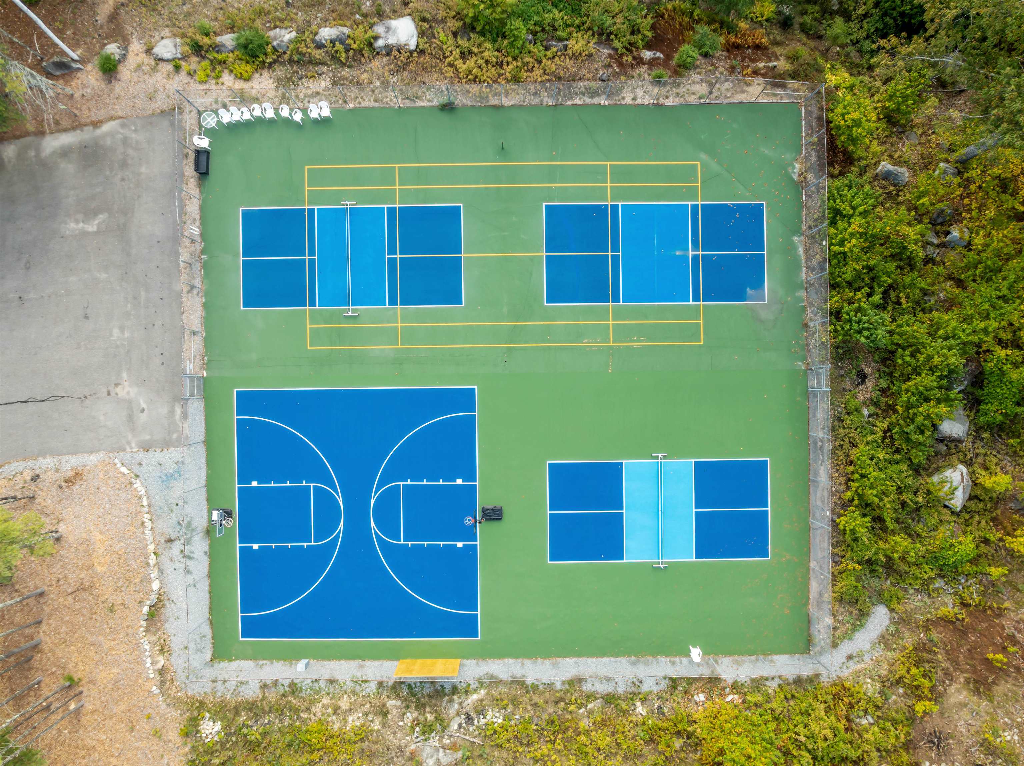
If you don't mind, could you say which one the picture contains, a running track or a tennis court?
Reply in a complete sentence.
It is a tennis court that can be seen here.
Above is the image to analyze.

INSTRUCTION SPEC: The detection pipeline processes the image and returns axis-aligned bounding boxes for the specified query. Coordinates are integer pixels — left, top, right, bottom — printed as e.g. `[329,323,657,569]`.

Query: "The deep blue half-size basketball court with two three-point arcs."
[235,387,479,641]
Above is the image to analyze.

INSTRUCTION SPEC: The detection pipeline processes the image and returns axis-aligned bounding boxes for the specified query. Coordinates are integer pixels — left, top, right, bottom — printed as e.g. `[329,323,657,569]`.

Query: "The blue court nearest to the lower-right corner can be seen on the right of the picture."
[547,459,770,563]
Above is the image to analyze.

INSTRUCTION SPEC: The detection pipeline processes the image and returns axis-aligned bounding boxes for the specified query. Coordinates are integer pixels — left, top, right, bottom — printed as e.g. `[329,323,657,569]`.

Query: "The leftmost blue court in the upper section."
[240,204,464,309]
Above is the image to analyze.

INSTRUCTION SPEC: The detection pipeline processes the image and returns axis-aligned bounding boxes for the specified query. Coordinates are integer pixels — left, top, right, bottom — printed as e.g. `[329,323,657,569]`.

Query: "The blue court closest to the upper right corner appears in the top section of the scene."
[544,202,767,304]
